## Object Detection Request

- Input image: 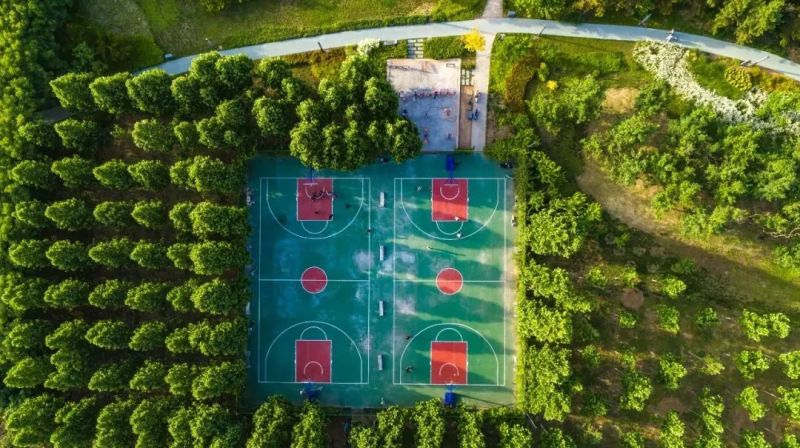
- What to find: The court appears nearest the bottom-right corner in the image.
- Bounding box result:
[393,177,505,385]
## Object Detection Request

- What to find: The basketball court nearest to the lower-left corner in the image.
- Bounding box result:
[257,177,370,385]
